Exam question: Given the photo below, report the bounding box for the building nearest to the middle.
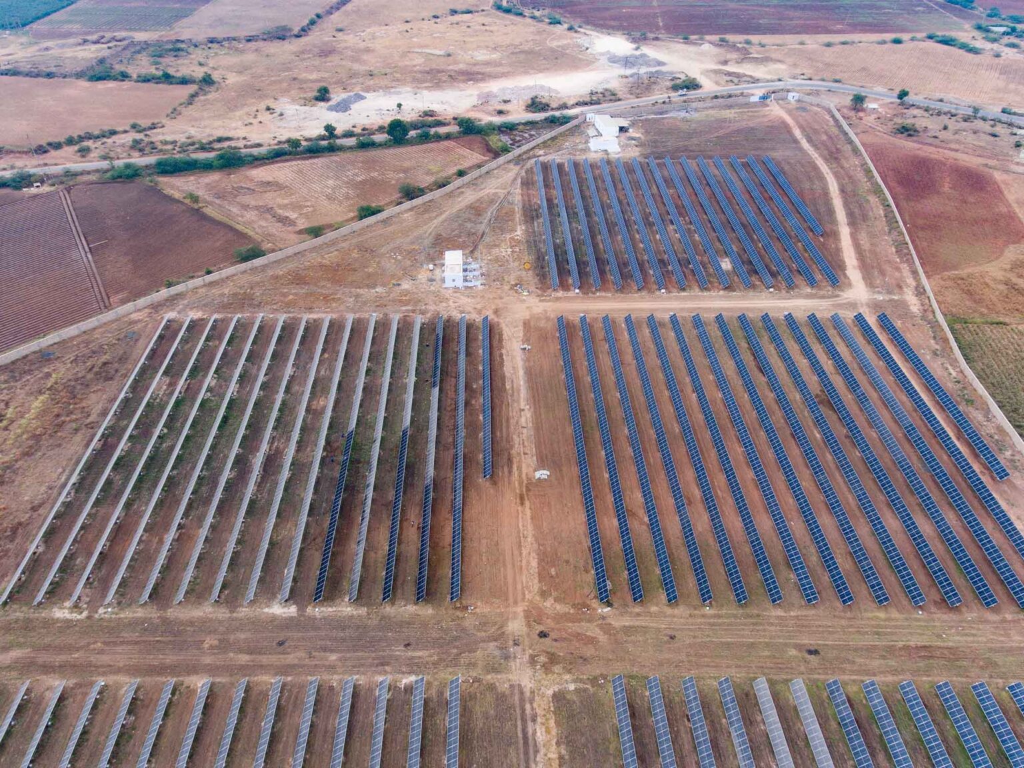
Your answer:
[443,251,466,288]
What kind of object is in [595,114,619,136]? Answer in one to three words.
building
